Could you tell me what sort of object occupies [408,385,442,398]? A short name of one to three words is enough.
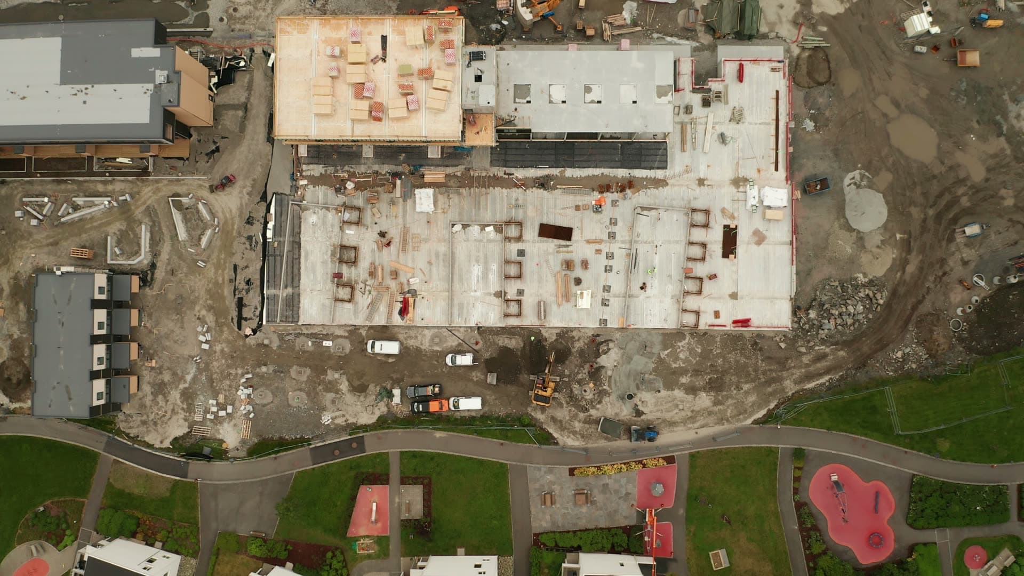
vehicle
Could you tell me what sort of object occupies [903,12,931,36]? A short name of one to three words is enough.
shed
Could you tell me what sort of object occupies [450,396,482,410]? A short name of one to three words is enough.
vehicle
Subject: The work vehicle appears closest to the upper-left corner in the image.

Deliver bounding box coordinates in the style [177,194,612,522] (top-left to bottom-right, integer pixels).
[205,174,233,195]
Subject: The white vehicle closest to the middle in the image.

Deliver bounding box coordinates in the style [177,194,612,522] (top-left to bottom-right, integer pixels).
[447,353,476,366]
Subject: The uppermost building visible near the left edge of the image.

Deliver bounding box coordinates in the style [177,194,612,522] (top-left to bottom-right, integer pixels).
[0,17,213,145]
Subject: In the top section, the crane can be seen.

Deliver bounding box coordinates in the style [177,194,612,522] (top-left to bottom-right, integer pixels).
[515,0,563,34]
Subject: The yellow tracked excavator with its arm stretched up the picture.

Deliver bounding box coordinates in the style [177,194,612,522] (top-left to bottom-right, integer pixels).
[529,350,560,409]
